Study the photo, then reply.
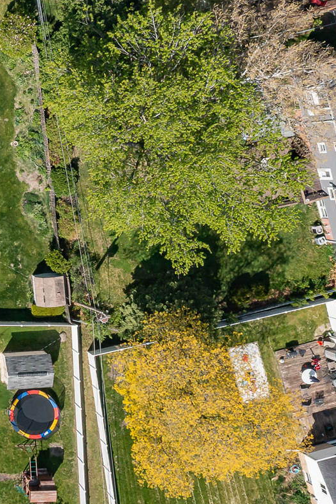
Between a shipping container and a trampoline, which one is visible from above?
trampoline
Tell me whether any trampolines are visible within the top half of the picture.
No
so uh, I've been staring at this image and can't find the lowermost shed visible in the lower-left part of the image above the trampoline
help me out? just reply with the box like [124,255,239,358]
[2,352,54,391]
